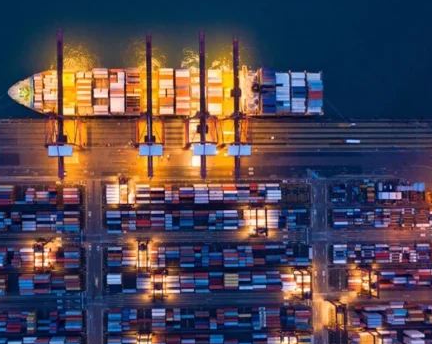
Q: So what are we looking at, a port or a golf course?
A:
port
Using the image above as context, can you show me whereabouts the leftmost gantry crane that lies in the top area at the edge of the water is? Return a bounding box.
[44,31,84,181]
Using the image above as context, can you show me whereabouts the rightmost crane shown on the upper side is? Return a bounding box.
[212,36,253,181]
